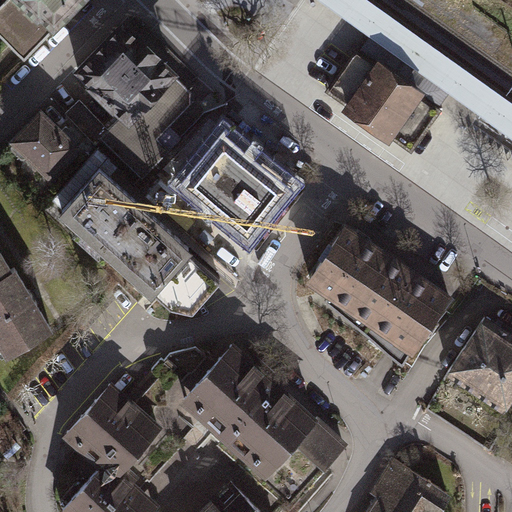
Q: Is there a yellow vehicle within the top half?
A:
No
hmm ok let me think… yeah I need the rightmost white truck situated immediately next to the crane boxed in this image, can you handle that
[256,238,280,268]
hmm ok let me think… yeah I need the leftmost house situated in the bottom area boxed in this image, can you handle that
[0,262,52,360]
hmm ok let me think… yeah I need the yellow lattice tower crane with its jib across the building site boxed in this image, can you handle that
[89,193,316,238]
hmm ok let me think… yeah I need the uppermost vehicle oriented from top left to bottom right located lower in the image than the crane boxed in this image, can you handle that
[215,244,242,269]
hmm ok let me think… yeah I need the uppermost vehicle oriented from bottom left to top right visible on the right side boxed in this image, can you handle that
[414,131,434,155]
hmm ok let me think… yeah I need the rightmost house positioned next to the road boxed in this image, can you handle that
[448,322,512,417]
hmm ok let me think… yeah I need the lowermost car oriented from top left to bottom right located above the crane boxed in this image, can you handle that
[277,134,302,156]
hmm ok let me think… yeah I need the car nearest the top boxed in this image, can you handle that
[76,0,98,20]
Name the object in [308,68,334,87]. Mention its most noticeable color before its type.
black car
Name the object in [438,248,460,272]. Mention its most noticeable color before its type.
white car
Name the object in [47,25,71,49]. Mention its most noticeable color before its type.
white vehicle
